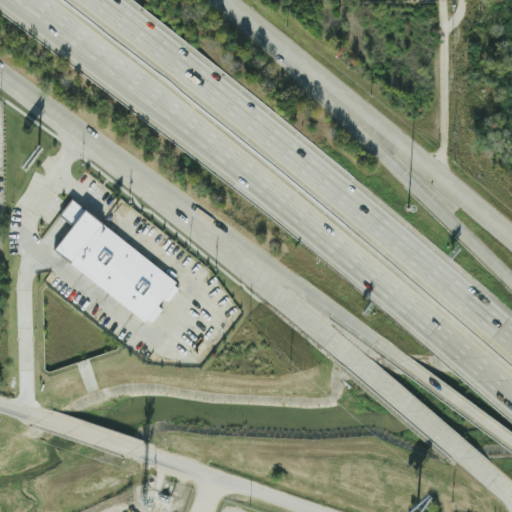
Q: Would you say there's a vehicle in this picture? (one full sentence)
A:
Yes, this view includes a vehicle.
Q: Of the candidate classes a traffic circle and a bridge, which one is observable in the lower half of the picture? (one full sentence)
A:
What appears in the lower half of the picture is a bridge.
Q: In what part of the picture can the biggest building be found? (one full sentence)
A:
The biggest building is in the left part of the image.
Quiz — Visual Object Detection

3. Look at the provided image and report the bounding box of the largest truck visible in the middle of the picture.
[194,204,230,234]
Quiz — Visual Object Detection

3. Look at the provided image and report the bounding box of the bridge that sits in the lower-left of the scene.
[38,411,150,458]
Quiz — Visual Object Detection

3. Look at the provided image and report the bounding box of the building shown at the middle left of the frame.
[55,200,179,324]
